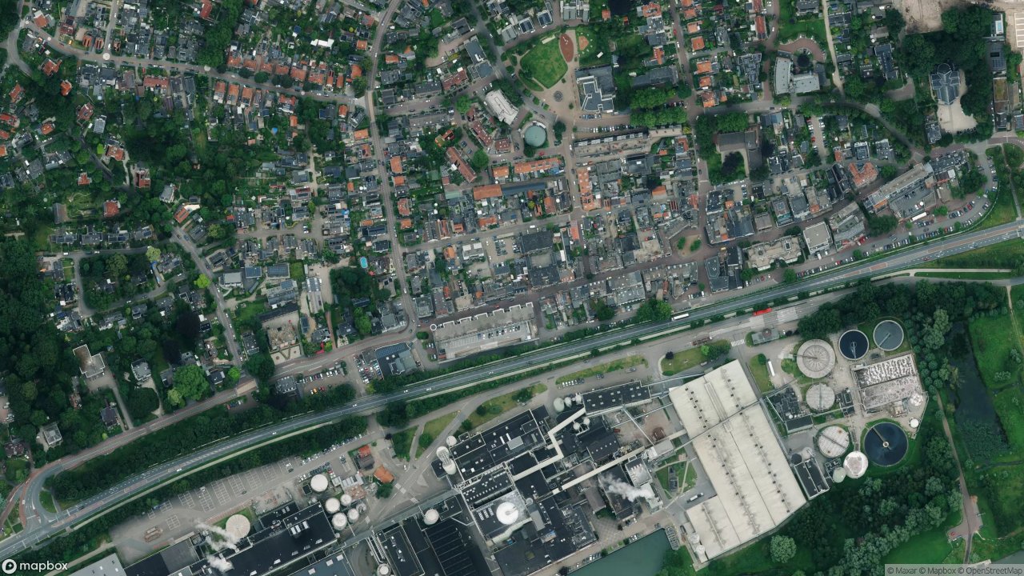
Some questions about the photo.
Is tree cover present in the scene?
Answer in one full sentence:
Yes, tree cover can be seen from above here.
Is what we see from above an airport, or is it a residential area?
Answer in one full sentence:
This image shows a residential area.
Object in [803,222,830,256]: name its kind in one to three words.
building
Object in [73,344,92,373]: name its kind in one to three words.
house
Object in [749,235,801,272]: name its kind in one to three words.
building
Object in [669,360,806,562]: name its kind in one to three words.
warehouse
